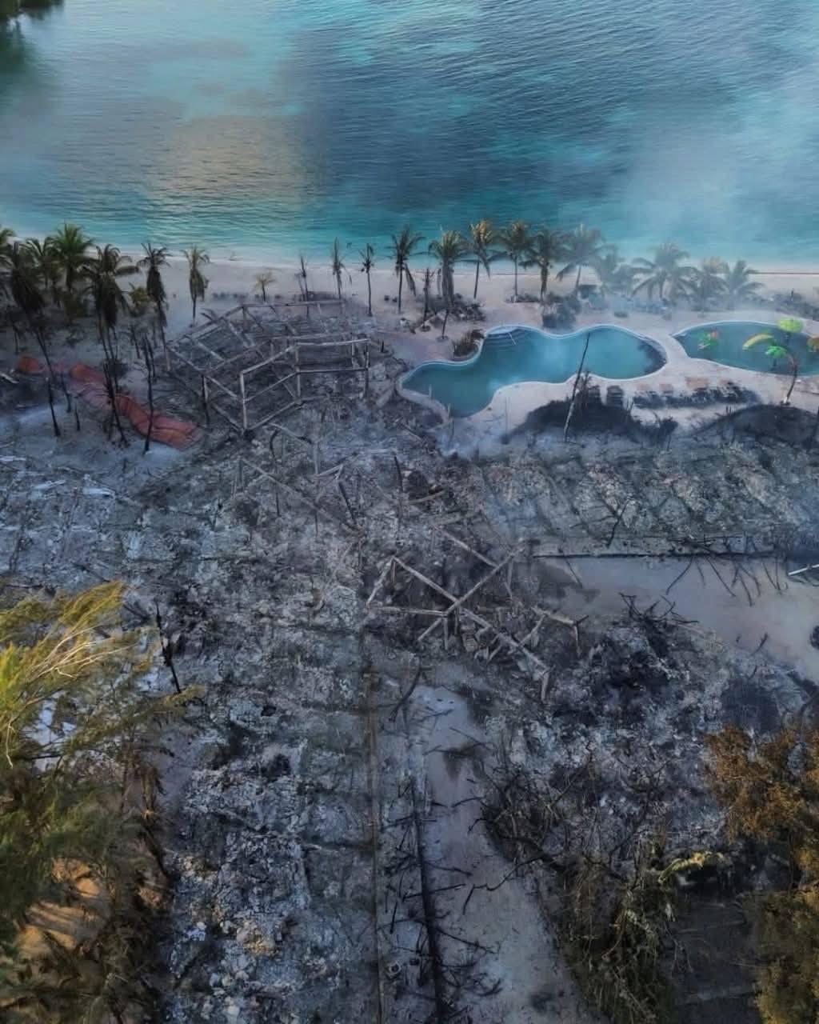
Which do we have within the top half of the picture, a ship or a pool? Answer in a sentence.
The feature located within the top half of the picture is a pool.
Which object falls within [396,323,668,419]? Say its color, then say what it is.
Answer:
blue swimming pool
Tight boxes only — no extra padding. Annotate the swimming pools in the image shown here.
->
[673,319,819,376]
[396,323,668,419]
